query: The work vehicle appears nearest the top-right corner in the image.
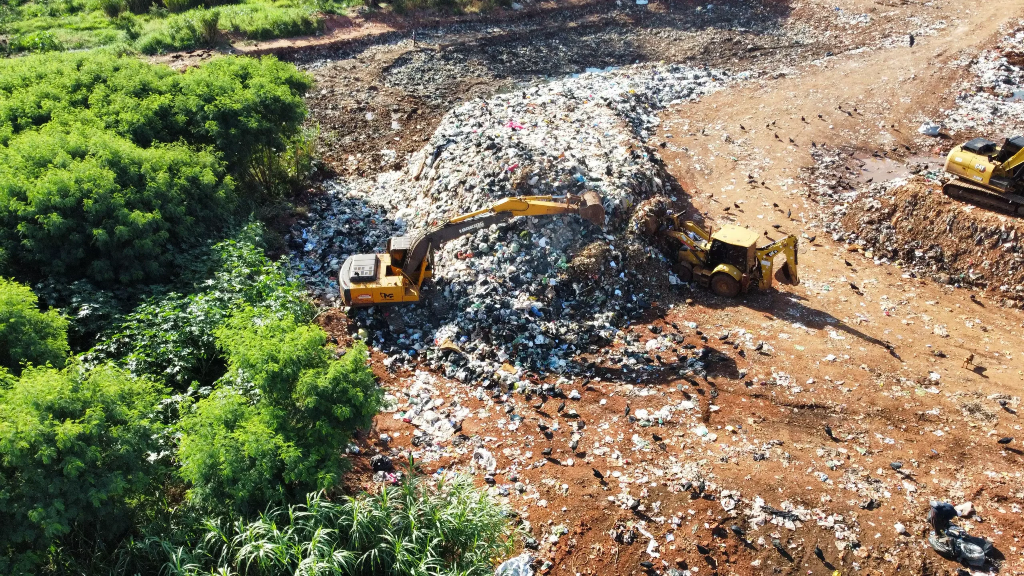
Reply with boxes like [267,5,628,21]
[944,141,1024,218]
